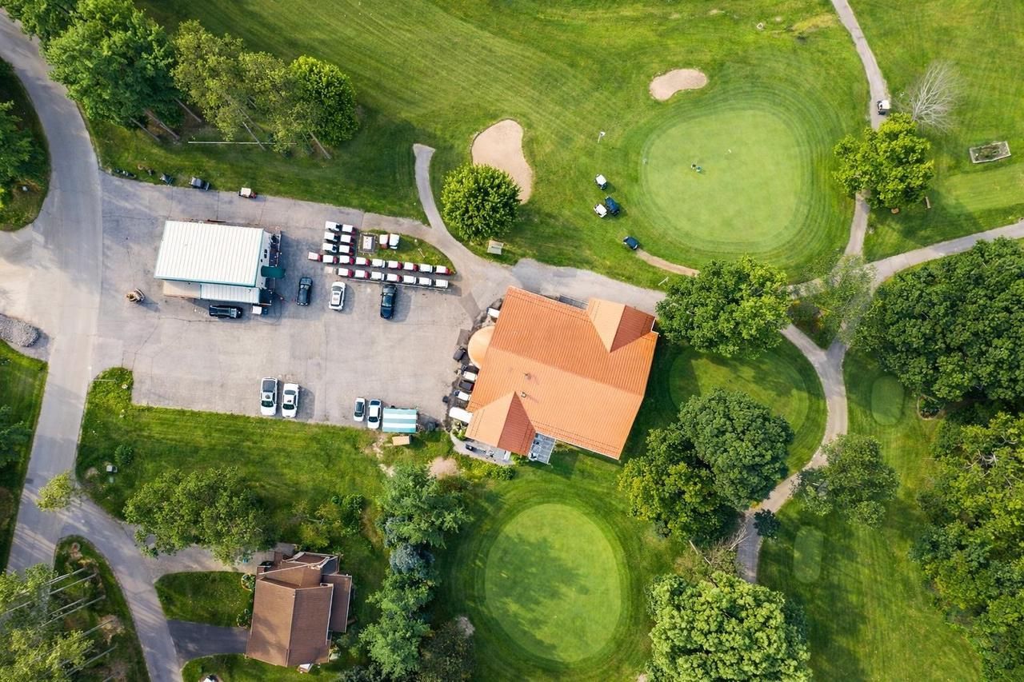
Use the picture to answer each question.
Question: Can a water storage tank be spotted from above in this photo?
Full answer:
No, I find no water storage tank anywhere in the image.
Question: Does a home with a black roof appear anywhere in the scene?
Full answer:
No, no home with a black roof is visible in the scene.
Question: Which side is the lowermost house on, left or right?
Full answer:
It is on the left.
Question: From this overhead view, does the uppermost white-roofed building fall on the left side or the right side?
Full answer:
It is on the left.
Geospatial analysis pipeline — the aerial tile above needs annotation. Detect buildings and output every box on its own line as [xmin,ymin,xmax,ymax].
[466,285,658,464]
[245,546,354,667]
[154,221,290,306]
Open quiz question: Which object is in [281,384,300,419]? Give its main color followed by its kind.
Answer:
white car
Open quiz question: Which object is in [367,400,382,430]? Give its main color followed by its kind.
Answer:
white car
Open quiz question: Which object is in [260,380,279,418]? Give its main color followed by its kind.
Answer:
white vehicle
